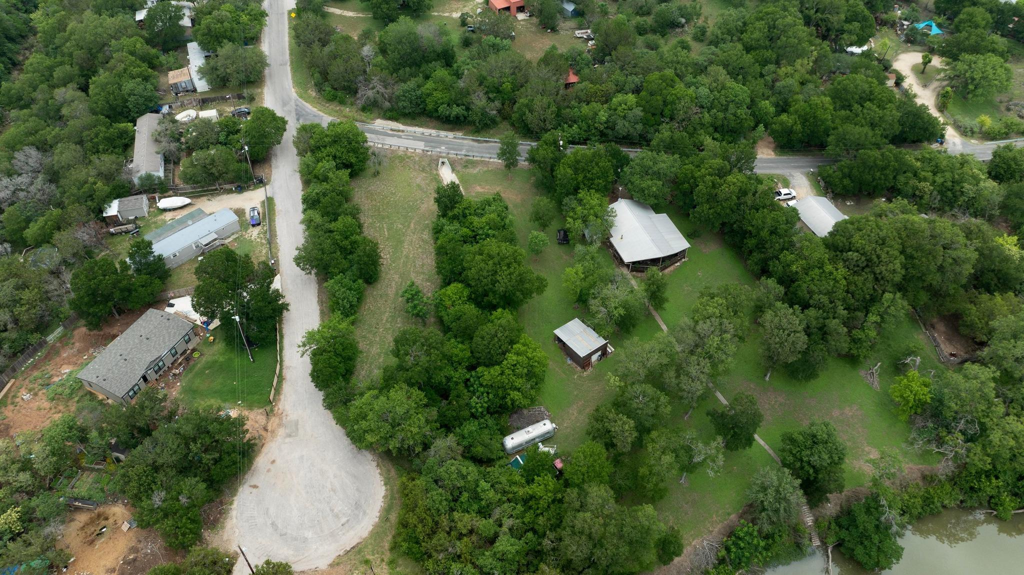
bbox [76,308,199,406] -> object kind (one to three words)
house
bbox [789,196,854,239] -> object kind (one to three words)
building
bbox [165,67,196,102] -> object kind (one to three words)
shed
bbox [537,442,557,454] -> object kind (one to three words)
boat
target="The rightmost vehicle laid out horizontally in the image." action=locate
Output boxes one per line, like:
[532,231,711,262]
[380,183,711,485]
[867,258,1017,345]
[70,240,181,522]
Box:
[773,189,800,203]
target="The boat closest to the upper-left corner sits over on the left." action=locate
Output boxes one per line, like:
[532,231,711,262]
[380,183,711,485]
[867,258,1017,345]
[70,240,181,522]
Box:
[171,108,198,121]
